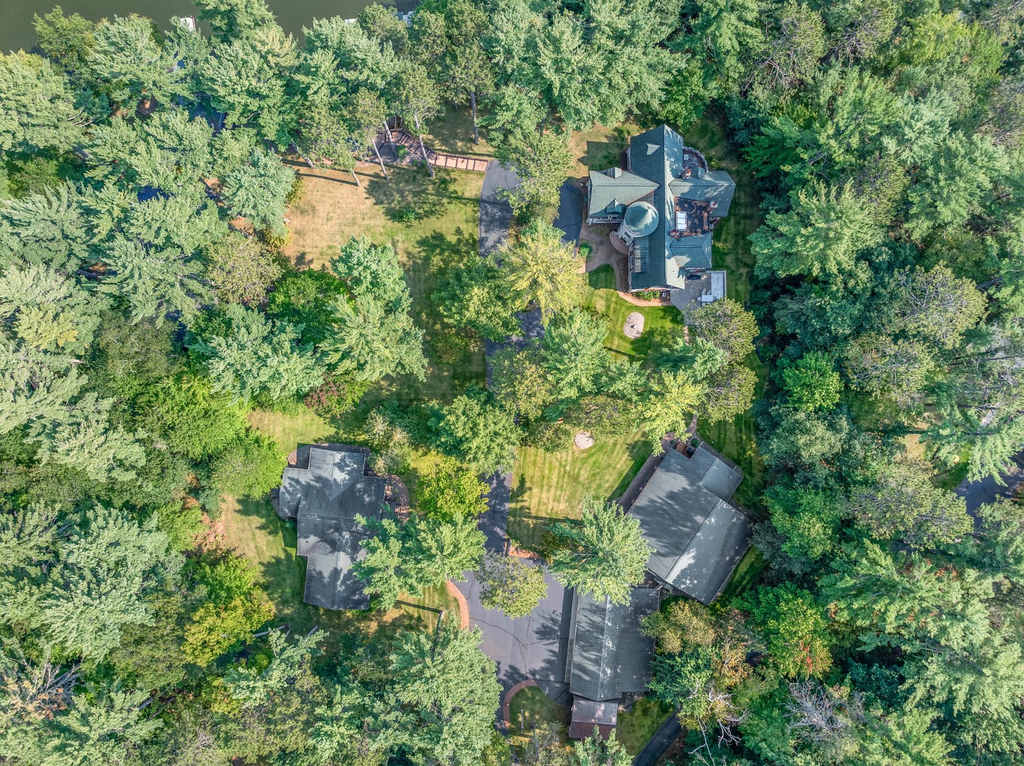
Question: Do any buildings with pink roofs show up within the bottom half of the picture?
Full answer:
No, no building with a pink roof is visible within the bottom half of the picture.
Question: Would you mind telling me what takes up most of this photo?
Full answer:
For the most part, this view shows trees.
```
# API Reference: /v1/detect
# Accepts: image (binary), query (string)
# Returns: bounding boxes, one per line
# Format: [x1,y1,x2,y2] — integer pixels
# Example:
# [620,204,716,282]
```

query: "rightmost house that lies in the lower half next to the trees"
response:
[624,447,751,603]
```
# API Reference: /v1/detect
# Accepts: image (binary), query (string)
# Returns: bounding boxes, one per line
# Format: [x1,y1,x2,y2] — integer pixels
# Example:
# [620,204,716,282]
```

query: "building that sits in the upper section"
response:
[582,124,736,293]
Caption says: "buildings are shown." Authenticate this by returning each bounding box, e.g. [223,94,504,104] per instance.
[624,447,751,603]
[280,448,386,609]
[565,584,660,702]
[582,124,736,293]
